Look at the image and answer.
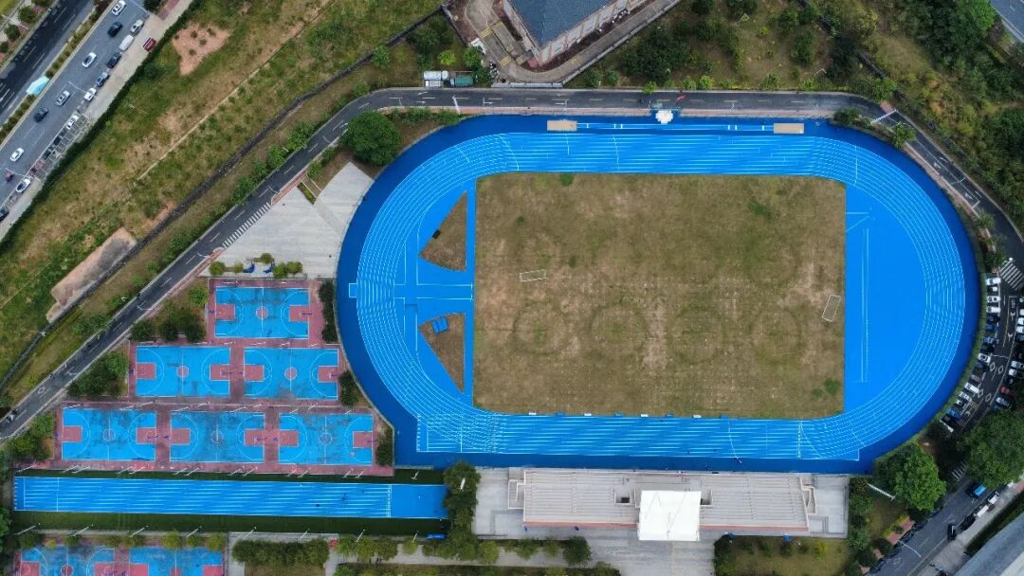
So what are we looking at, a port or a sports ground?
sports ground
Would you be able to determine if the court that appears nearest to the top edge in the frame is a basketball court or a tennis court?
basketball court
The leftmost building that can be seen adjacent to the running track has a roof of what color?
blue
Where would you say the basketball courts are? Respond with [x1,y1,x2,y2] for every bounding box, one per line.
[279,413,373,466]
[244,348,338,399]
[170,411,264,464]
[129,548,223,576]
[136,347,230,397]
[21,547,114,576]
[215,288,309,339]
[62,409,156,462]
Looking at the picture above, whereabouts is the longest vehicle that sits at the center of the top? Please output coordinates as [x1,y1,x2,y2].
[449,74,474,86]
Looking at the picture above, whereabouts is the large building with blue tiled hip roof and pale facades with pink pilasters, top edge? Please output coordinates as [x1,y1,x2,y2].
[503,0,655,80]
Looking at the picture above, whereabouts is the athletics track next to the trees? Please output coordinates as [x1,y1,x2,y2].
[336,114,982,474]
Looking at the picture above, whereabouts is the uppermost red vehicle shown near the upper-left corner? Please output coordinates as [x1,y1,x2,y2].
[142,37,157,52]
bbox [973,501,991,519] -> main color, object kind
white vehicle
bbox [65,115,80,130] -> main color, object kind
white car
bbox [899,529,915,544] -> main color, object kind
black car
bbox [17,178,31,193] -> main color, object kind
white car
